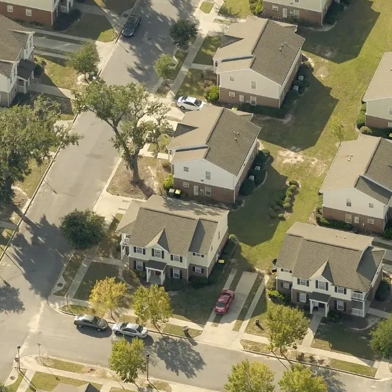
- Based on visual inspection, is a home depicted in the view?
Yes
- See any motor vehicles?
Yes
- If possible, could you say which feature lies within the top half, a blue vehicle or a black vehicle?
black vehicle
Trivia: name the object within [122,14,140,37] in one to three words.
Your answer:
car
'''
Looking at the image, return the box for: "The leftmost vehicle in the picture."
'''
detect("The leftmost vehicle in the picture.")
[74,315,108,333]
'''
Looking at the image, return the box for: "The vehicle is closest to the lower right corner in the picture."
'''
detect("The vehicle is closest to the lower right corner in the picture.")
[215,291,235,315]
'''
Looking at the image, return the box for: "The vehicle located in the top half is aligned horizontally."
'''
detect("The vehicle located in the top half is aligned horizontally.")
[173,95,208,112]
